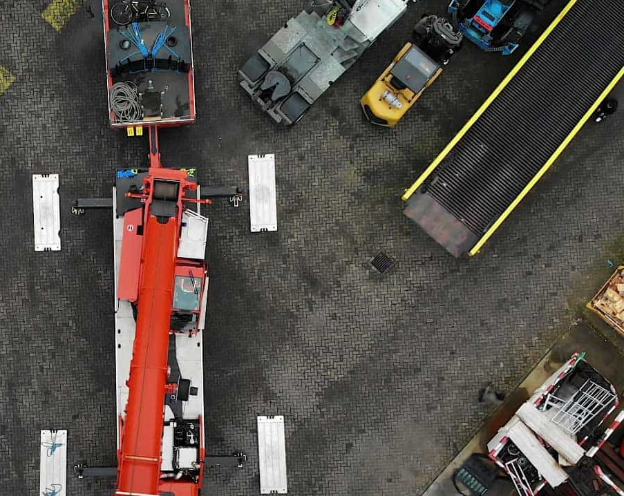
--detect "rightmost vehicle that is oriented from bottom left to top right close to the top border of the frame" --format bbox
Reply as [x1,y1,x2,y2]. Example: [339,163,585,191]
[360,14,463,127]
